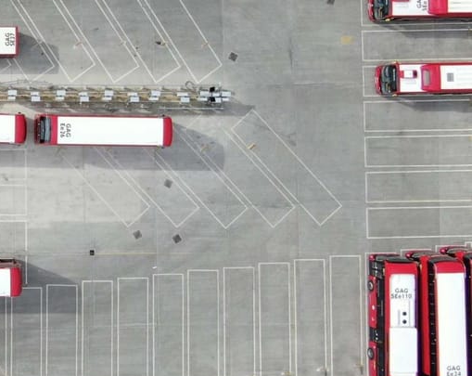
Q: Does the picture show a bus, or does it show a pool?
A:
bus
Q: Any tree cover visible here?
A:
No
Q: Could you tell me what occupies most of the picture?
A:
paved ground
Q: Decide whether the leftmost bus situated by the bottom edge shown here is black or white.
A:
white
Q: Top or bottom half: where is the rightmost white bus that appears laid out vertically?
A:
bottom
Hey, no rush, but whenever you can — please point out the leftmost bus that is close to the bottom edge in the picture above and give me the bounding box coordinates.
[368,250,420,376]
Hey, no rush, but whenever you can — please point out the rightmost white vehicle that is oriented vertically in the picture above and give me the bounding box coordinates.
[406,247,468,376]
